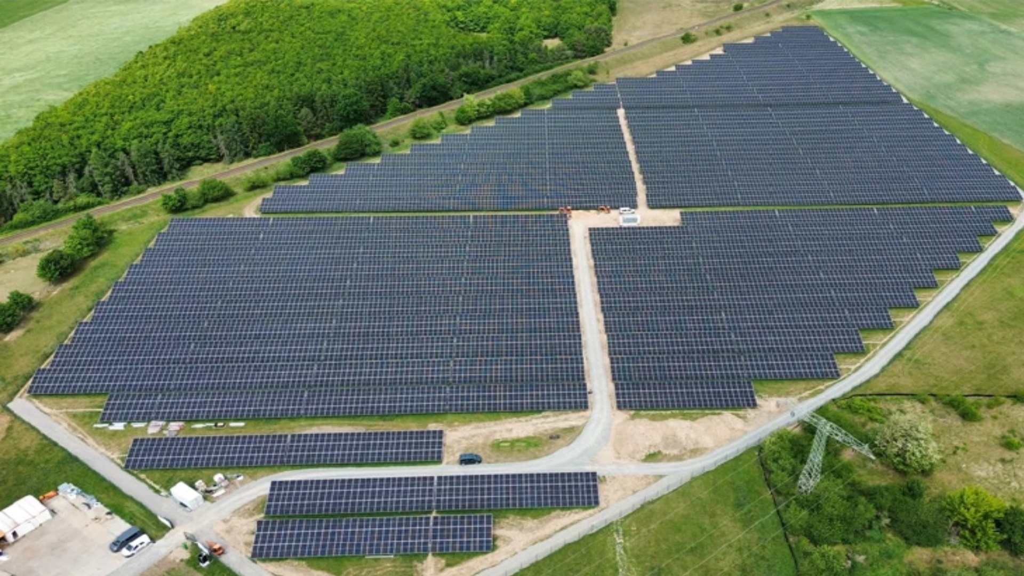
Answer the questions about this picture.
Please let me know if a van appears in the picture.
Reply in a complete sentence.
Yes, I can see a van in this picture.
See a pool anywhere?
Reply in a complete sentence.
No, the photo shows no pool.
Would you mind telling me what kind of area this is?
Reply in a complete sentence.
This image shows a solar farm.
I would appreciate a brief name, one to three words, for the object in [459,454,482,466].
vehicle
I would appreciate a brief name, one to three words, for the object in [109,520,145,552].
van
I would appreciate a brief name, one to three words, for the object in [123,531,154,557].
vehicle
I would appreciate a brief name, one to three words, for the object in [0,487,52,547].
tent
